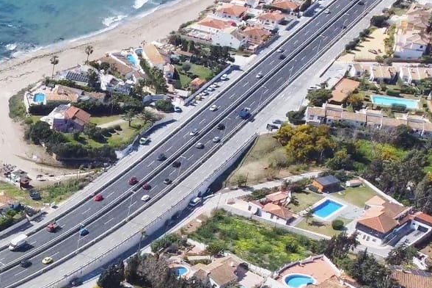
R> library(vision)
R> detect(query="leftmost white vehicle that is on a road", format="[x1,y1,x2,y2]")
[9,232,28,248]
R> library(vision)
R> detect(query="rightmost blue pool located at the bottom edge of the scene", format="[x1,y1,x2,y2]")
[282,272,315,288]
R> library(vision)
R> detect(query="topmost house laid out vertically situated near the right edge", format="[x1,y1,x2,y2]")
[394,1,432,71]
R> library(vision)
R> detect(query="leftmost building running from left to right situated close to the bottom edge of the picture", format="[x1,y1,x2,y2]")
[189,263,238,288]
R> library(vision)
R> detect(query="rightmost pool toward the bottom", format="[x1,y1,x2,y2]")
[309,197,347,220]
